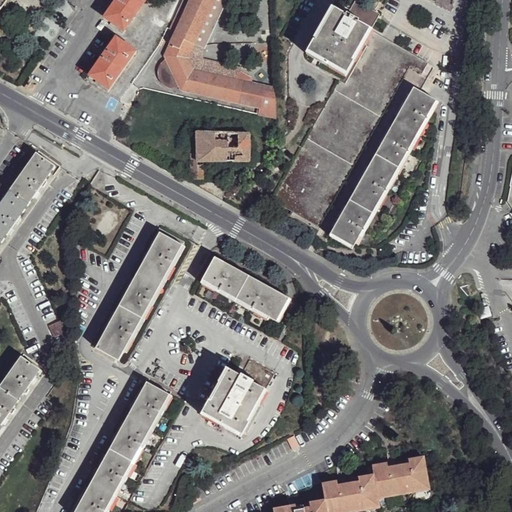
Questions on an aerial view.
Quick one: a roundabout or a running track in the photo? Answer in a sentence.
The image shows a roundabout.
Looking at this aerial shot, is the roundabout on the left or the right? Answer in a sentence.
You can find the roundabout on the right side of the picture.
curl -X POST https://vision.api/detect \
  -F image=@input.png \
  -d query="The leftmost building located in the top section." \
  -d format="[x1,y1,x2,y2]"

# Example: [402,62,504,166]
[0,152,60,250]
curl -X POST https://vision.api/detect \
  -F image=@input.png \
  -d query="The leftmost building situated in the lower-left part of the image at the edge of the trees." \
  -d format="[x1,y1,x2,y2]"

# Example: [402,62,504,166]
[0,355,44,427]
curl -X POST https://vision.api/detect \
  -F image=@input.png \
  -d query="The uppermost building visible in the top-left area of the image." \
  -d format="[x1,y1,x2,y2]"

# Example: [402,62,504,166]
[102,0,146,32]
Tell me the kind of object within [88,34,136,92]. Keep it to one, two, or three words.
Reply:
house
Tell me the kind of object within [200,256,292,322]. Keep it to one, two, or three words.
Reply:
building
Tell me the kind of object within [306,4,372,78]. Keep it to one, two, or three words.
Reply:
building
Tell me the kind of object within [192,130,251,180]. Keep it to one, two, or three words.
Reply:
house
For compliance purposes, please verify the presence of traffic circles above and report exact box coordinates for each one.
[350,272,447,371]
